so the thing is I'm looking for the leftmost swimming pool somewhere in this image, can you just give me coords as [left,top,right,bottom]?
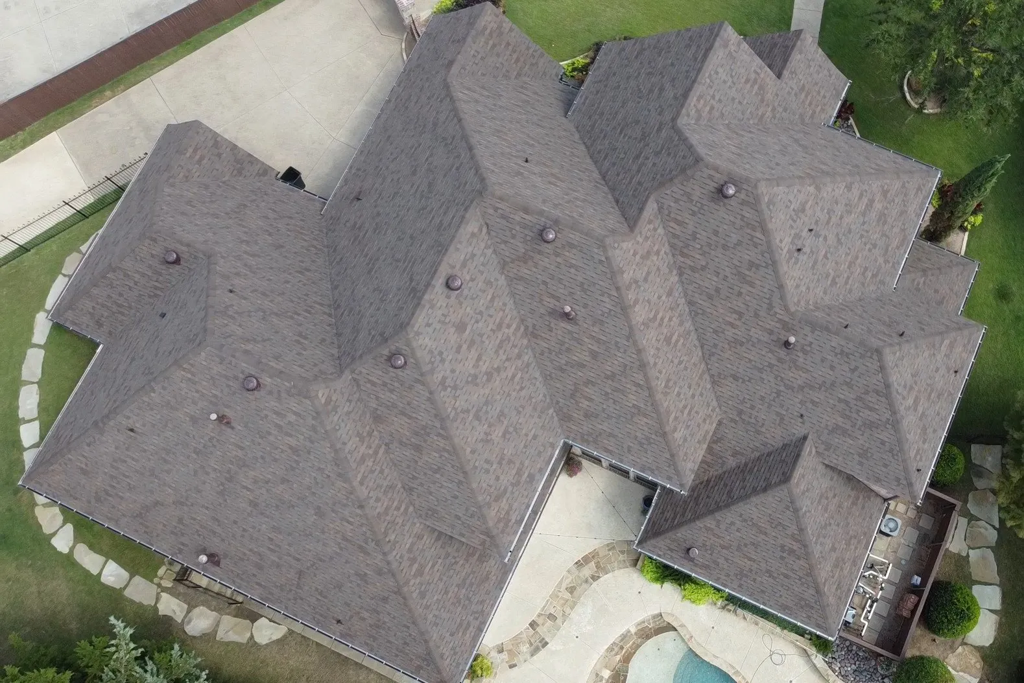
[588,612,754,683]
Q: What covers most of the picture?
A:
buildings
